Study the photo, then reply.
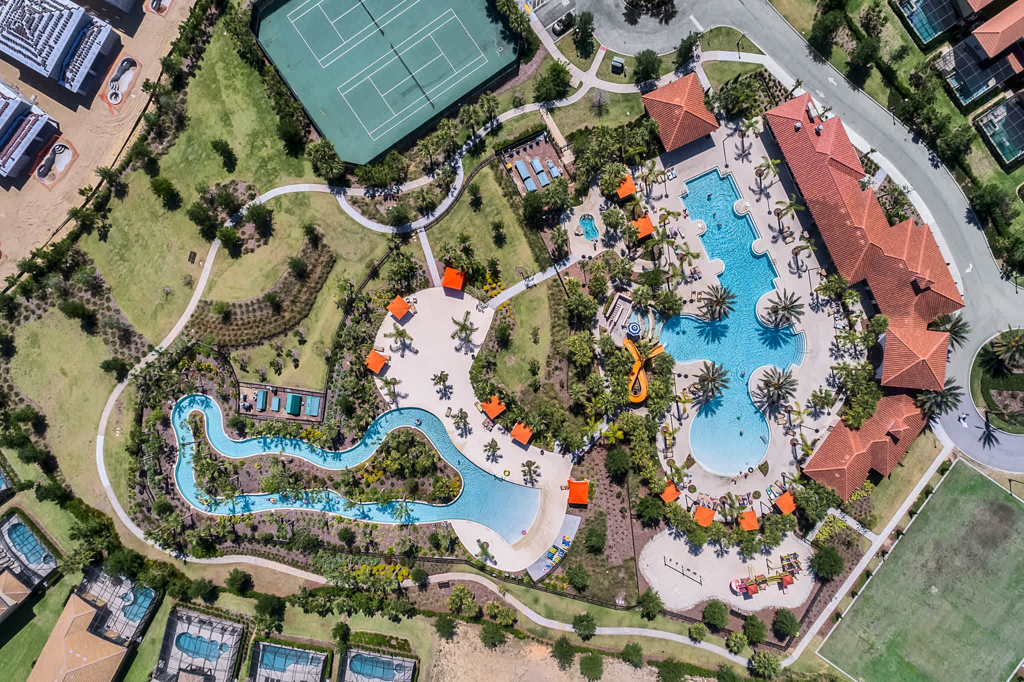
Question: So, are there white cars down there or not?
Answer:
No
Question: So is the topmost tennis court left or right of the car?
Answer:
to the left of it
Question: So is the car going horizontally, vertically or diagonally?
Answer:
diagonally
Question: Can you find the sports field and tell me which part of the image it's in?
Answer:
bottom right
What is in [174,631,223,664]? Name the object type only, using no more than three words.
swimming pool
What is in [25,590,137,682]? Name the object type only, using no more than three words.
house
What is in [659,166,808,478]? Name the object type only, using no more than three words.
swimming pool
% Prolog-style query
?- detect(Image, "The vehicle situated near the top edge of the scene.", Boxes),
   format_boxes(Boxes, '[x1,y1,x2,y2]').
[551,11,576,37]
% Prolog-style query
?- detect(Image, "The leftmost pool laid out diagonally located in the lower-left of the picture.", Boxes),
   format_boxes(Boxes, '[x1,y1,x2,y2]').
[6,522,46,566]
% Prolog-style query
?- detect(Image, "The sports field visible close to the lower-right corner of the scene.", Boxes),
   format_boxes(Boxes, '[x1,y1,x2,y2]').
[817,461,1024,682]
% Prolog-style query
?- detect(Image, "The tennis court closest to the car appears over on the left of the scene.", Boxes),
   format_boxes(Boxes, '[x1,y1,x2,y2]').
[258,0,519,164]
